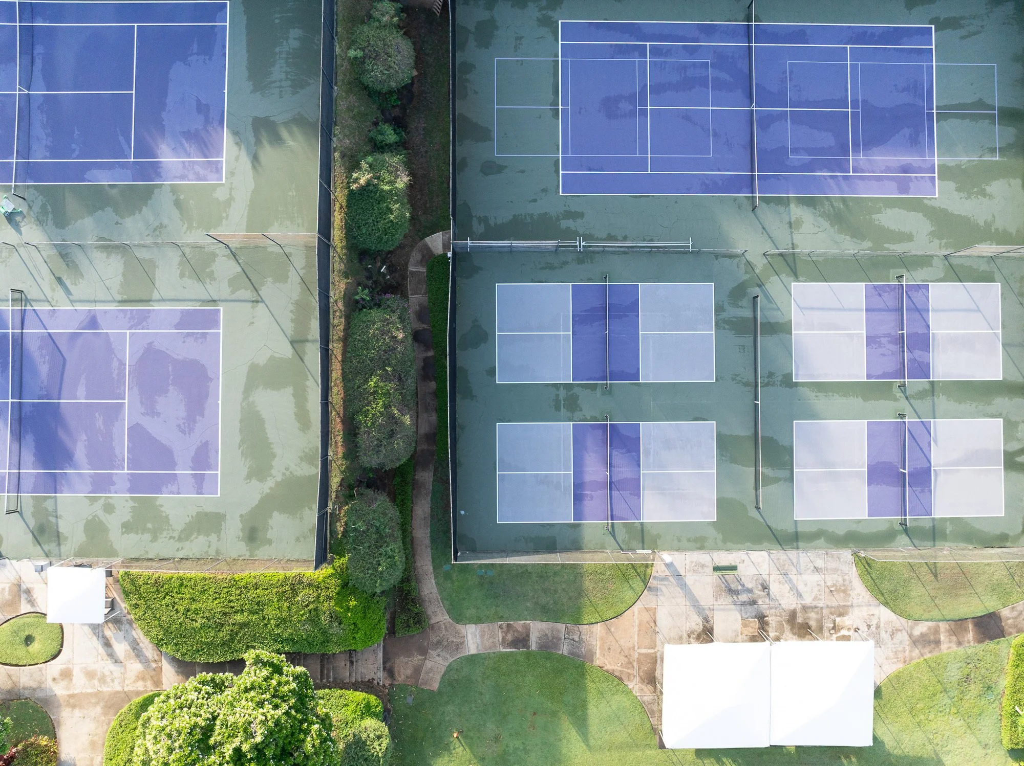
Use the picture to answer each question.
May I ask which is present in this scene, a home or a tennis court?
tennis court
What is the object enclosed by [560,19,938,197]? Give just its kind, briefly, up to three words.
tennis court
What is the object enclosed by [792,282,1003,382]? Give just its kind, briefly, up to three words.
sports court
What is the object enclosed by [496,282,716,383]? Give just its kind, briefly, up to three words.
sports court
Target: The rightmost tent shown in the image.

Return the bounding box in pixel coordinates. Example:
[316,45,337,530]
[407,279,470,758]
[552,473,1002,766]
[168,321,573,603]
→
[758,628,874,748]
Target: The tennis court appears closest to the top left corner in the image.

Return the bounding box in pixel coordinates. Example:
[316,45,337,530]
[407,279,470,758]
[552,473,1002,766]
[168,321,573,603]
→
[0,0,228,184]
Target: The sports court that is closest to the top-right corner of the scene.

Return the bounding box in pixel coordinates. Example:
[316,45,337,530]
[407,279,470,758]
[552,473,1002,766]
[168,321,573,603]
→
[788,61,999,159]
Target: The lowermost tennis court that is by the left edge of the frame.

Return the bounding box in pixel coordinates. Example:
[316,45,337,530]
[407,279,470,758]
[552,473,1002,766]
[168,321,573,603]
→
[0,307,223,497]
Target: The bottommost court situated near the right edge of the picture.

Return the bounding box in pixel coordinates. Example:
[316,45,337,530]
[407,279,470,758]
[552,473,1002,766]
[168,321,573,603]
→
[794,419,1005,520]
